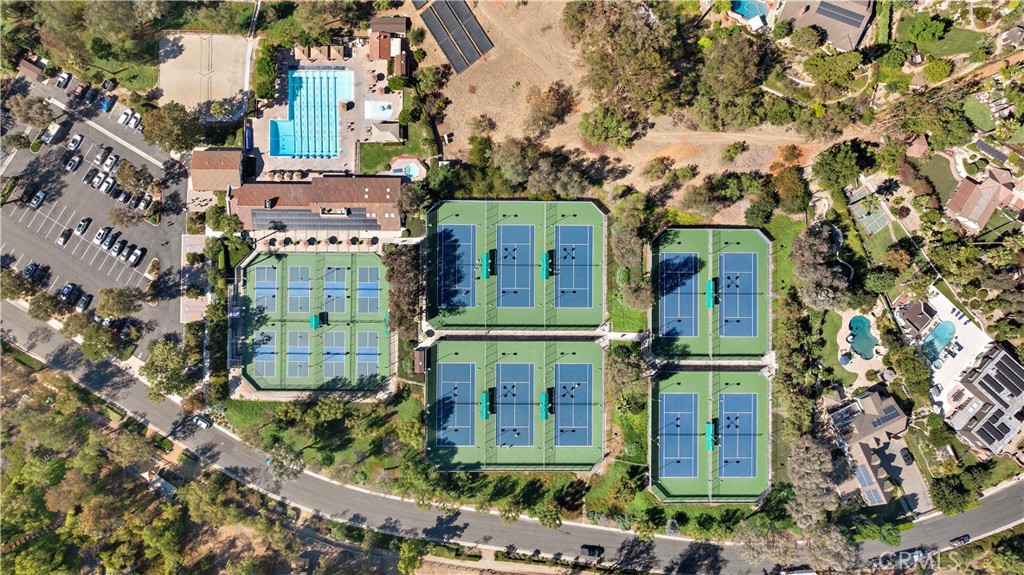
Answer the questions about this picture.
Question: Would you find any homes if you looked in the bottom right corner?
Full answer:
Yes, there is a home in the bottom right corner.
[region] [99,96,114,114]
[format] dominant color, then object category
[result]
blue car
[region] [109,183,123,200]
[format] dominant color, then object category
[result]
black car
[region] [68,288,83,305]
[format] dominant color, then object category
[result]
black car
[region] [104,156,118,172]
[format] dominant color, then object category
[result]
white car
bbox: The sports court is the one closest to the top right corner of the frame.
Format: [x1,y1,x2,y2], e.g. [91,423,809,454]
[847,187,889,235]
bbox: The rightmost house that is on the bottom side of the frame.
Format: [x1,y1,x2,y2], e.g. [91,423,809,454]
[947,344,1024,459]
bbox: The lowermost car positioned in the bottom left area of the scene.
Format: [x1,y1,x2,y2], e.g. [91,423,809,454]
[195,414,212,428]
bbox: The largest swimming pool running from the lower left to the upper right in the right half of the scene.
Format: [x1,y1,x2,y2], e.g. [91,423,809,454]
[920,320,957,364]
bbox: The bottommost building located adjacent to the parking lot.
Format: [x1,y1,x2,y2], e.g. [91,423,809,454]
[227,175,402,232]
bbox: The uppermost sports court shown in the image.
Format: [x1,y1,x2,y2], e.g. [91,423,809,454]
[158,31,248,122]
